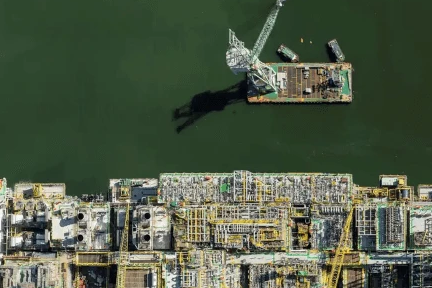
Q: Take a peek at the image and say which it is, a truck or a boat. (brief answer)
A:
boat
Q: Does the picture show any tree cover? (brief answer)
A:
No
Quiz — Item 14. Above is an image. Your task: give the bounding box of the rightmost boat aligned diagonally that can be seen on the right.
[327,38,346,62]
